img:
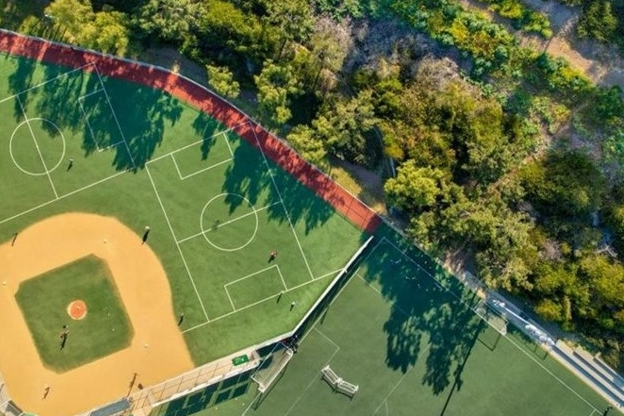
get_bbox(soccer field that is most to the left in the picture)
[0,63,135,224]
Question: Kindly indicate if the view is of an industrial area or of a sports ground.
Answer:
sports ground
